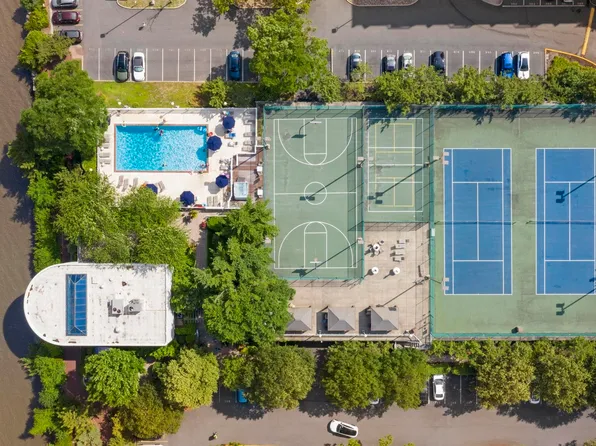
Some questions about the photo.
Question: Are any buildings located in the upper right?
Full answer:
No, in the upper right there is no building.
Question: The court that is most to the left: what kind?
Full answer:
Looking closely, the court that is most to the left is a basketball court.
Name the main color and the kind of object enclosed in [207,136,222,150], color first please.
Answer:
blue umbrella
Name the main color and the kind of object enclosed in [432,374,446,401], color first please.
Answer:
white vehicle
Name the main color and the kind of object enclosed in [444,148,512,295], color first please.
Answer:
blue tennis court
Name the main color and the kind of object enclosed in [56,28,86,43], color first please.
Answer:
gray car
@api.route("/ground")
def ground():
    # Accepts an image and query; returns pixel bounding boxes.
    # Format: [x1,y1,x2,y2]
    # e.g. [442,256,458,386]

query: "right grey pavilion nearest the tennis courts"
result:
[370,305,398,332]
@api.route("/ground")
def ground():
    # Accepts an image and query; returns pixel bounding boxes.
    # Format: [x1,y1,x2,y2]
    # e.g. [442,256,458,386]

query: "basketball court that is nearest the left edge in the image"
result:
[264,109,361,278]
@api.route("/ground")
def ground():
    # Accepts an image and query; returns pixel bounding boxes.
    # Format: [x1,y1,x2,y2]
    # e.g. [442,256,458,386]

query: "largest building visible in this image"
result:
[23,259,174,352]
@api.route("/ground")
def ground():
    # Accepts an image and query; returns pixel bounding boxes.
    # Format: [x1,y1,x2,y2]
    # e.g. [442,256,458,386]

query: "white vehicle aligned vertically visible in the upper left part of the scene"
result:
[132,51,145,82]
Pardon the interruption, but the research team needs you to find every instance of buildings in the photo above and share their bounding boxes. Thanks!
[370,305,398,332]
[285,305,312,332]
[327,305,355,332]
[23,259,174,352]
